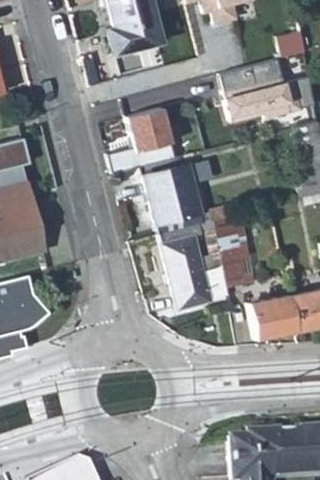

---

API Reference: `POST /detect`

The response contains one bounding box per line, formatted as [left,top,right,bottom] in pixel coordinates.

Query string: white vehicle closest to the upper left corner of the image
[52,14,69,40]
